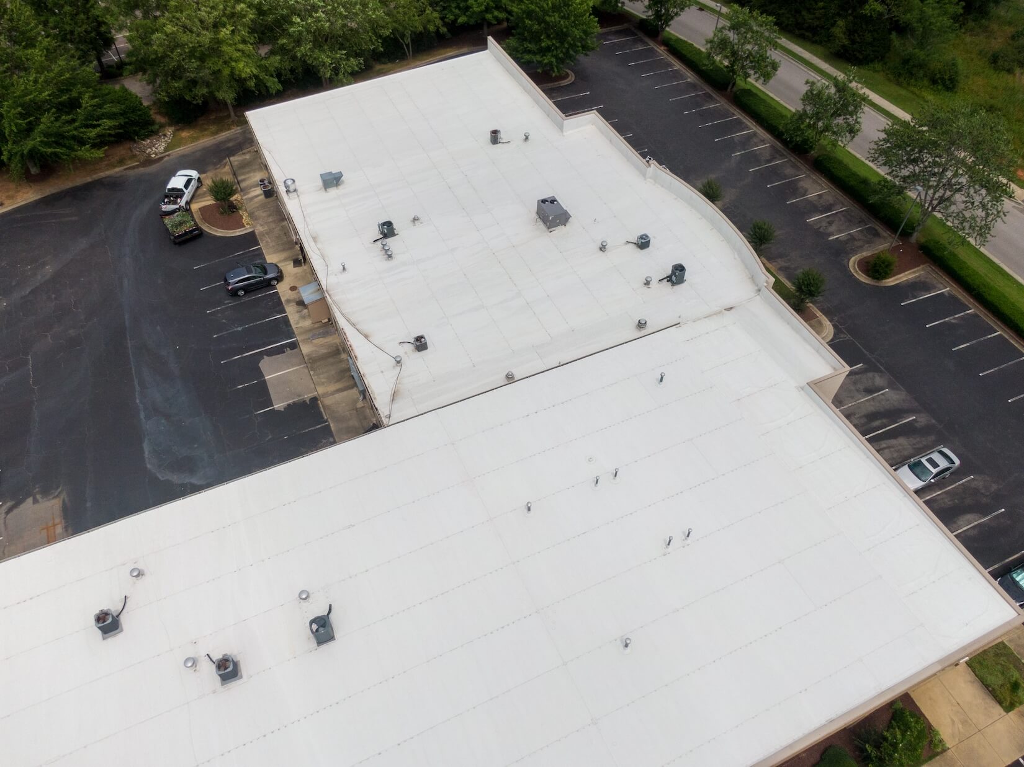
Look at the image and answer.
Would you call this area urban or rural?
urban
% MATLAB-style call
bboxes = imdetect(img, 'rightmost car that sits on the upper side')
[220,260,284,296]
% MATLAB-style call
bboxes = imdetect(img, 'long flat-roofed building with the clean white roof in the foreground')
[0,287,1024,767]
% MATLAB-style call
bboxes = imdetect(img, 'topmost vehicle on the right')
[894,445,966,494]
